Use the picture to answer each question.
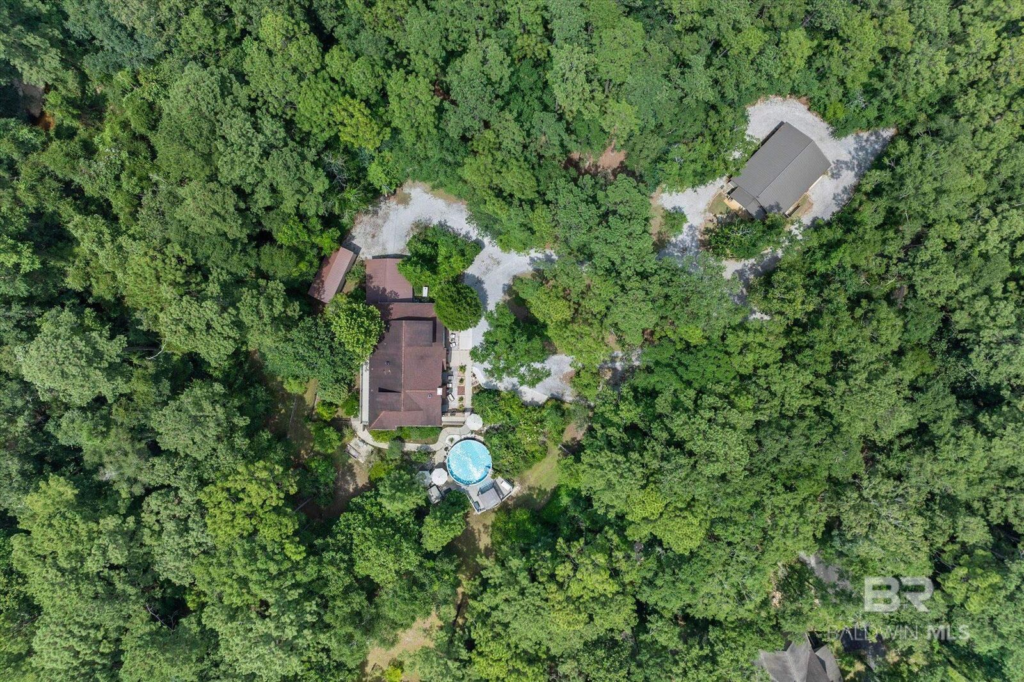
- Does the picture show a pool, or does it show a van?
pool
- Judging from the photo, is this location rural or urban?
rural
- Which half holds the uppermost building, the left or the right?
right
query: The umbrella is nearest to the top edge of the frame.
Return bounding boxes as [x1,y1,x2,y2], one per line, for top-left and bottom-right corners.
[466,413,483,430]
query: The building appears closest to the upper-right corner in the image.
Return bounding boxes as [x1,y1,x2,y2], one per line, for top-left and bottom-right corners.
[723,122,831,220]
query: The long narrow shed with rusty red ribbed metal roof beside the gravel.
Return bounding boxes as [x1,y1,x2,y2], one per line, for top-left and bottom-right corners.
[308,245,354,301]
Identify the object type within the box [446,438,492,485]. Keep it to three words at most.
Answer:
swimming pool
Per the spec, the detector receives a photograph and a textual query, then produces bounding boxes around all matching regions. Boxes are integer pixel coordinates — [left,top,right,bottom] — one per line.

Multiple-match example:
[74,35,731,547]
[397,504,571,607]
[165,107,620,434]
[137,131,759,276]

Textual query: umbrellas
[466,413,483,430]
[418,471,431,486]
[431,468,447,485]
